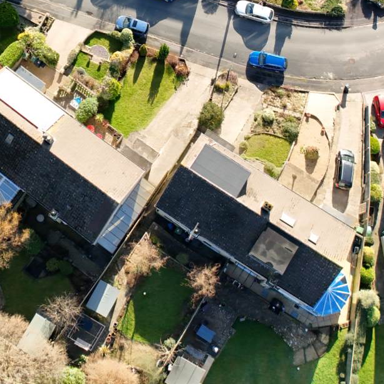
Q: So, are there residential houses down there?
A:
Yes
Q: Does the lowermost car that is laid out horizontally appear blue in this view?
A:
Yes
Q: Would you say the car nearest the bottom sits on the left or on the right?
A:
right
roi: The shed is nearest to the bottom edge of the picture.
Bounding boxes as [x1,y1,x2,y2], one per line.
[155,338,223,384]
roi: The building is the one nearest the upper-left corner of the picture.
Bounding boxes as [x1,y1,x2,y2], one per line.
[0,61,155,261]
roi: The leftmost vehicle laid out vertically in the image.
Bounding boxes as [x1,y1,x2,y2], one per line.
[334,148,357,191]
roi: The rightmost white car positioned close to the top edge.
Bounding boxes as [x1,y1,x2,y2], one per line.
[233,1,276,26]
